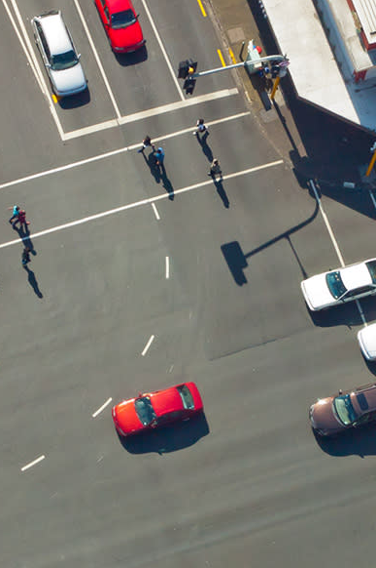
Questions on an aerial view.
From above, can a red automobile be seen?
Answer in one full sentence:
Yes, the picture does show a red automobile.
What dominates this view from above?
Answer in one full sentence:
The largest share of the image is taken up by paved ground.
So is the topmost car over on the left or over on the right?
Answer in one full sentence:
The topmost car appears in the left half of the scene.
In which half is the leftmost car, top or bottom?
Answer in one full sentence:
You can find the leftmost car in the top half.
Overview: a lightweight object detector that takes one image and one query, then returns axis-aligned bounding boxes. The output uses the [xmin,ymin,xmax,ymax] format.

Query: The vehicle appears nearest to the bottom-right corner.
[305,376,376,432]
